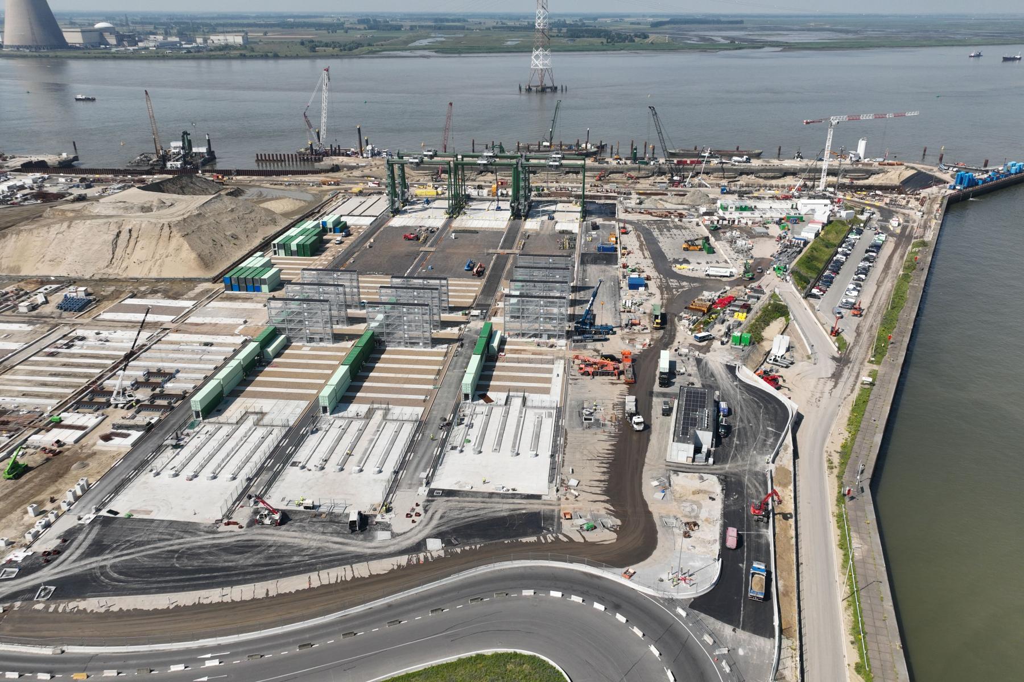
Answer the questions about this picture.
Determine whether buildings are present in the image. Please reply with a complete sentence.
Yes, the frame does contain a building.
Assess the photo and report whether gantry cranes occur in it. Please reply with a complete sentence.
Yes, the image includes a gantry crane.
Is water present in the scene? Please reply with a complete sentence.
Yes, some water is visible.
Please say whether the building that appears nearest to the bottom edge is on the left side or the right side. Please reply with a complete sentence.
The building that appears nearest to the bottom edge is on the right side of the image.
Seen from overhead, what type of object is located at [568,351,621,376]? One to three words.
crane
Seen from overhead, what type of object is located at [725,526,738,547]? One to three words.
vehicle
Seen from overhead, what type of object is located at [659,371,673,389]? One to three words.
vehicle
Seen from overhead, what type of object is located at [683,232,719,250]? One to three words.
work vehicle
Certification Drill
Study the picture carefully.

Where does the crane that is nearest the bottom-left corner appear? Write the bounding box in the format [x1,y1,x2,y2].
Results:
[103,307,165,405]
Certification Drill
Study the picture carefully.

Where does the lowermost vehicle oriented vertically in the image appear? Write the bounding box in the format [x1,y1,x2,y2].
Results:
[749,557,769,599]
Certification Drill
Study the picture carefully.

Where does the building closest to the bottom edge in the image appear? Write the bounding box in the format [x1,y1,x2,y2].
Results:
[665,386,722,460]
